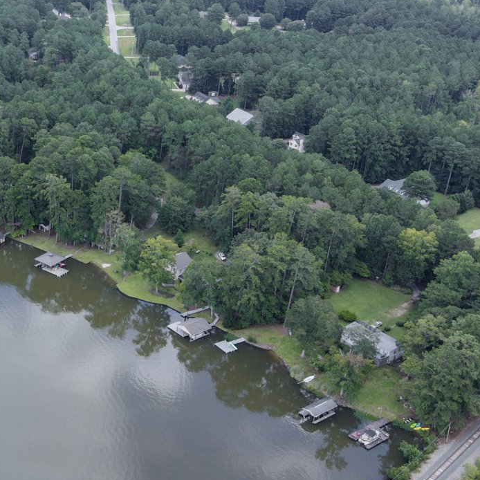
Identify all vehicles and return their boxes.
[217,252,228,261]
[373,321,386,331]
